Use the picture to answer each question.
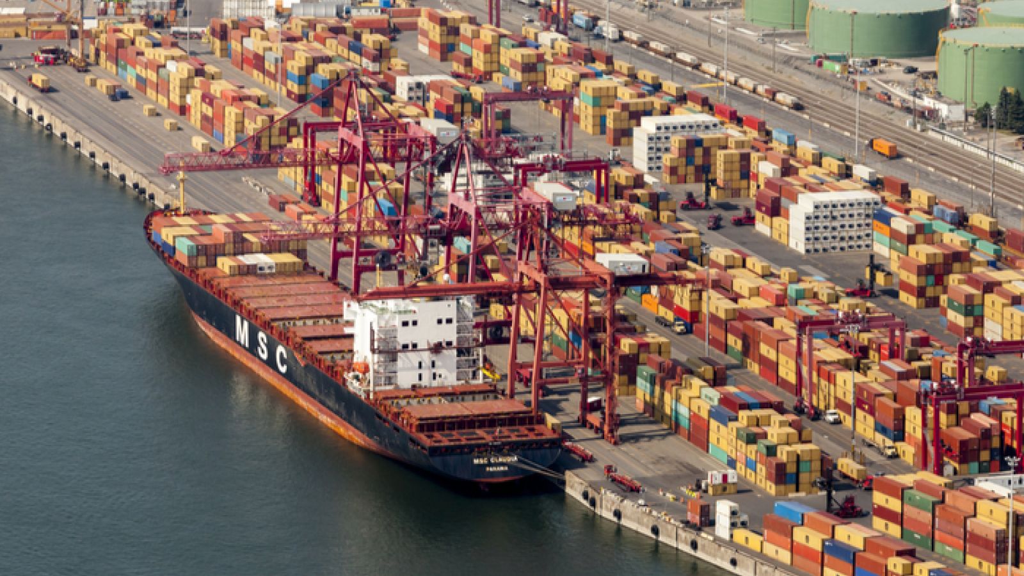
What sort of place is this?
port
